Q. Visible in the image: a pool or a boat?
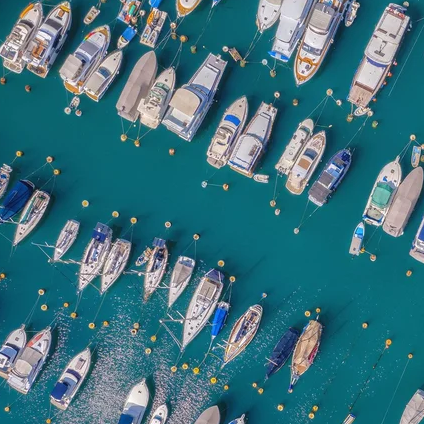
boat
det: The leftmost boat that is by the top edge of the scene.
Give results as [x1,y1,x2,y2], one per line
[2,0,44,73]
